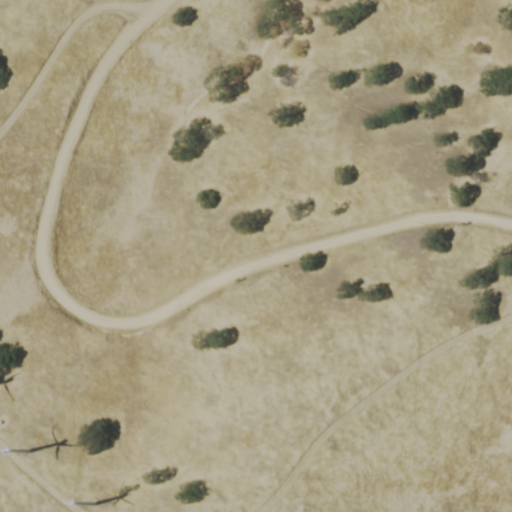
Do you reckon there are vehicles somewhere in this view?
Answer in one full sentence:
No, I can't see a single vehicle in this photo.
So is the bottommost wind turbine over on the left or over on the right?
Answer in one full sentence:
You can find the bottommost wind turbine on the left side of the picture.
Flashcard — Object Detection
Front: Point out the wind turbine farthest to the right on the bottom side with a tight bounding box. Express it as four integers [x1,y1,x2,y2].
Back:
[62,489,99,512]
